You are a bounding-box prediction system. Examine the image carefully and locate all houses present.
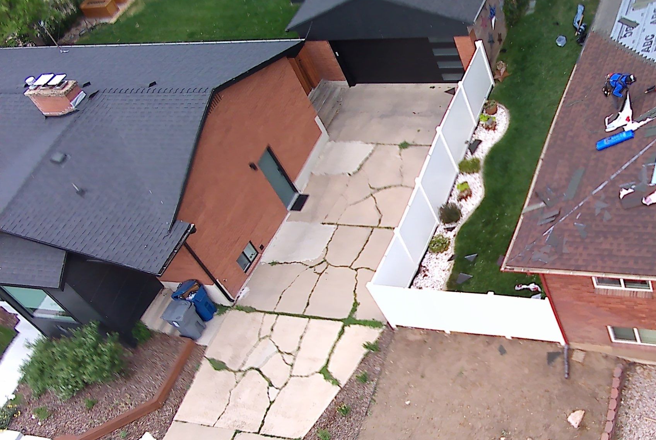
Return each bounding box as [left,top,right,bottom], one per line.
[0,3,335,356]
[499,0,656,371]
